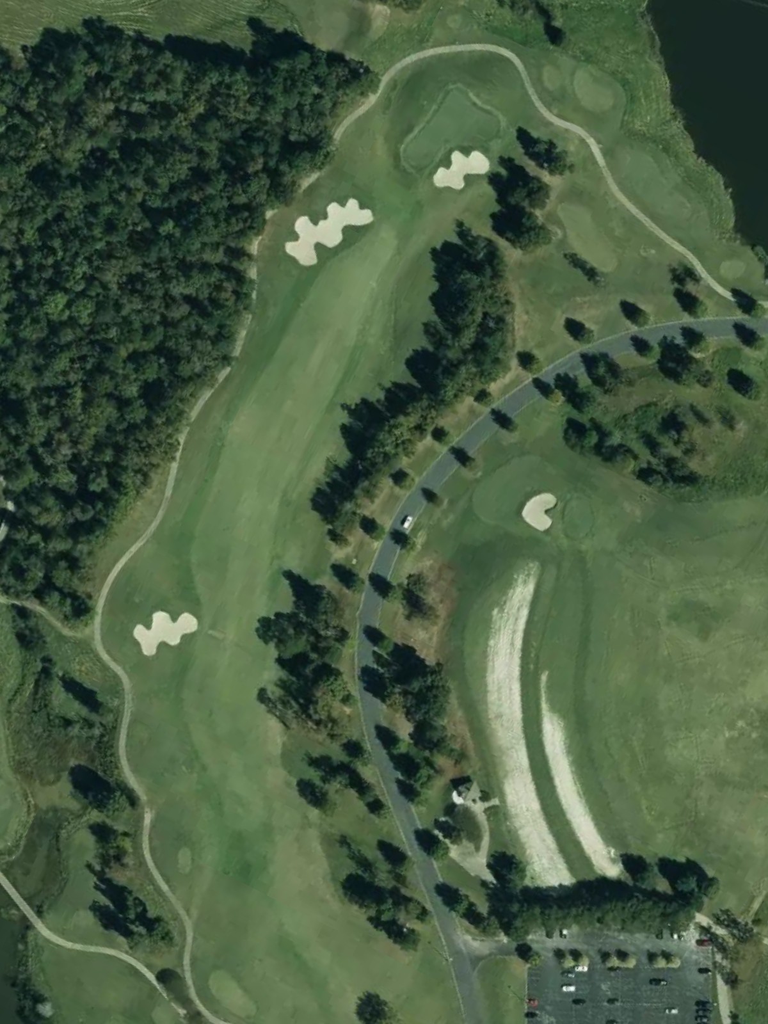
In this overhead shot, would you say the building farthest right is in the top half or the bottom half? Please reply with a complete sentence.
The bottom half of the photo is where the building farthest right is.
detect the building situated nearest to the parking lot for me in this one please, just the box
[457,781,481,802]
